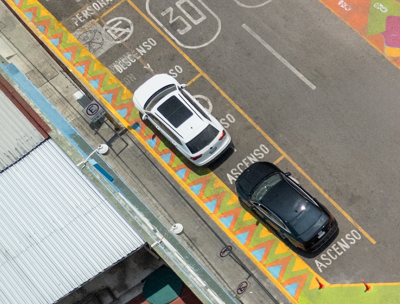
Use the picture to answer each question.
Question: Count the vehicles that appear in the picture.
two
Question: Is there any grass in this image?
No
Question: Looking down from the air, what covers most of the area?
paved ground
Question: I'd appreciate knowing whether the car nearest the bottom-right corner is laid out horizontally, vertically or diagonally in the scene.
diagonally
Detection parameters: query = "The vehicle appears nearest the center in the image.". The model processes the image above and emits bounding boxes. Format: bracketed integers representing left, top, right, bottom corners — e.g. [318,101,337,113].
[136,75,239,177]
